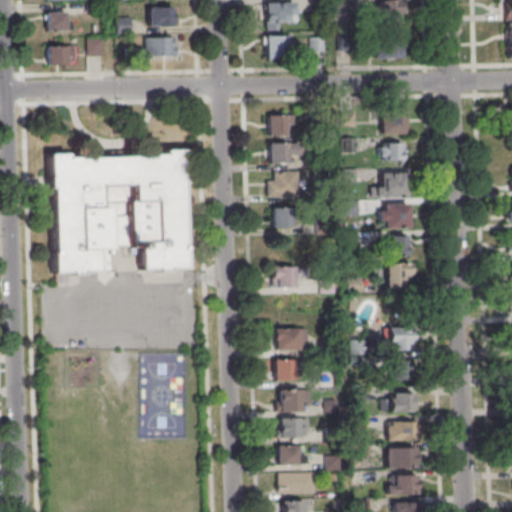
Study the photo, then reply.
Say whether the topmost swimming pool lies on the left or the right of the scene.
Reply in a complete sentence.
The topmost swimming pool appears in the right half of the scene.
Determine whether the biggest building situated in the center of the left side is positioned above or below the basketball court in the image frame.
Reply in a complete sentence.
The biggest building situated in the center of the left side is located above the basketball court in this view.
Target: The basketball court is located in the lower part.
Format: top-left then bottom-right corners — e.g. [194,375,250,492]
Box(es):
[139,353,186,438]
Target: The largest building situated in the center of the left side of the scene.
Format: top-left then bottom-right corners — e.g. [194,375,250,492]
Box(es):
[54,149,194,275]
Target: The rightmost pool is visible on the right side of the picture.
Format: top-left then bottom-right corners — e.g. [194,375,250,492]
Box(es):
[356,299,378,327]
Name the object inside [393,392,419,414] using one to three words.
house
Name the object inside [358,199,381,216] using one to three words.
building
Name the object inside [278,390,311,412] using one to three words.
house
